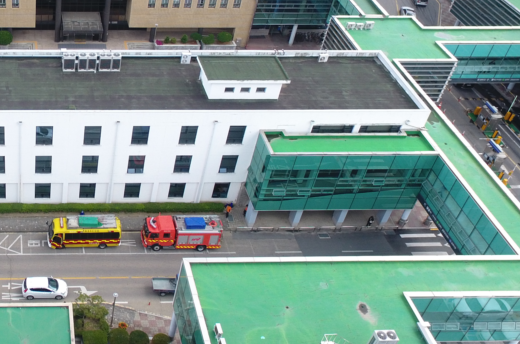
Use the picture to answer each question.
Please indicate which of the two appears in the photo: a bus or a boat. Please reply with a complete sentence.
Visible in the photo is a bus.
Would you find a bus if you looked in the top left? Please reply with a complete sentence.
No, no bus is visible in the top left.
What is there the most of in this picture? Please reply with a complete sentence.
Most of the picture is covered by buildings.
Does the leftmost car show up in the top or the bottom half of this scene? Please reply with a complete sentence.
The leftmost car is in the bottom half of the image.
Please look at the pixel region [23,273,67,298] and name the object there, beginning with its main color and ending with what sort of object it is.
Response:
white car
